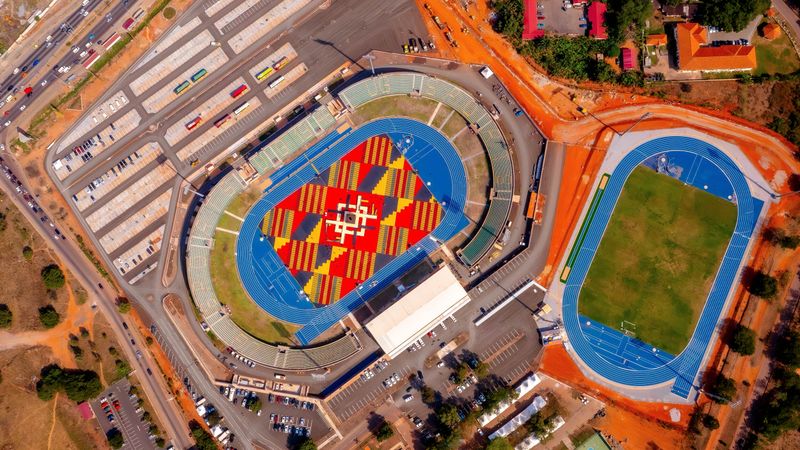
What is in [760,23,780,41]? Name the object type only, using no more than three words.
gazebo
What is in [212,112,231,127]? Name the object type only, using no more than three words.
vehicle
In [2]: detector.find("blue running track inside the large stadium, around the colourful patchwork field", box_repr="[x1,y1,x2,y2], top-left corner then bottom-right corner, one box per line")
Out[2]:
[236,116,470,348]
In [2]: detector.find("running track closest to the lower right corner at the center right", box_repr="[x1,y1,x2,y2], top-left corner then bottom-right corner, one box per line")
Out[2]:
[562,136,765,400]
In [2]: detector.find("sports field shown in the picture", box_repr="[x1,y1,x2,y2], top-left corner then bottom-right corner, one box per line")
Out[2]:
[579,164,738,356]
